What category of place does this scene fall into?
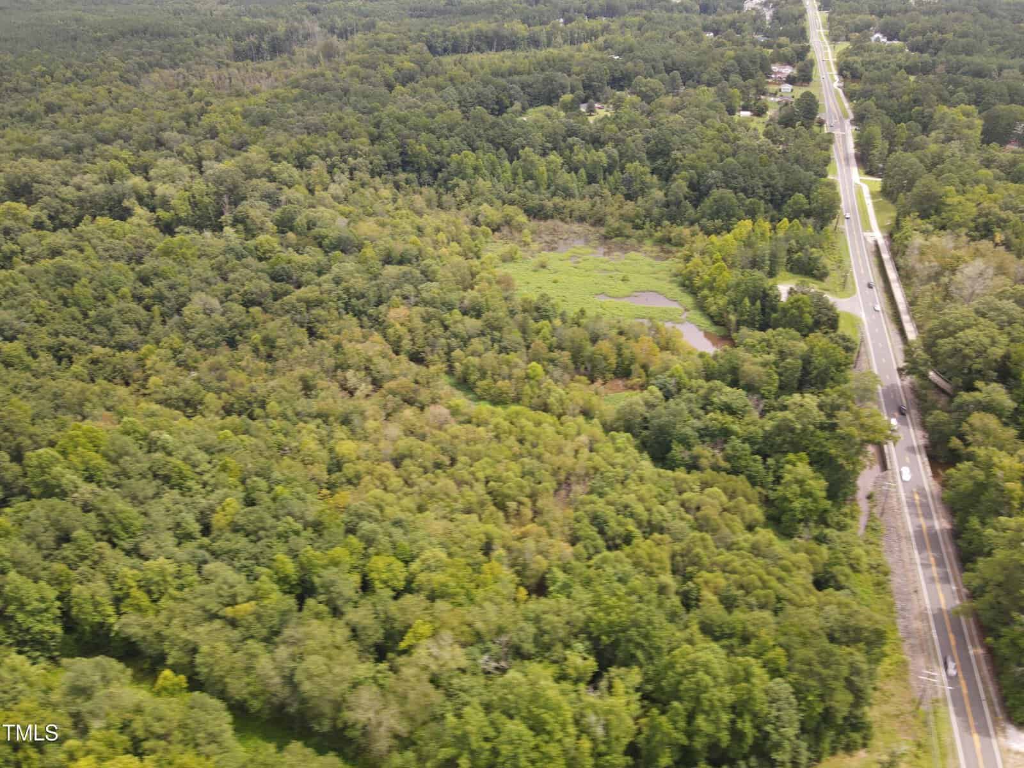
forest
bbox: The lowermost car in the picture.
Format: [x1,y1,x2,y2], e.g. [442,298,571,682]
[943,654,959,677]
